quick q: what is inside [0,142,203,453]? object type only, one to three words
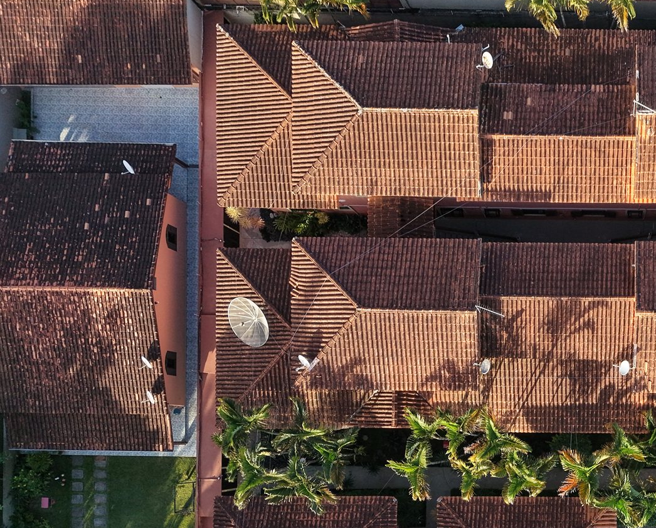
house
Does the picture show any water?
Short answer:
No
